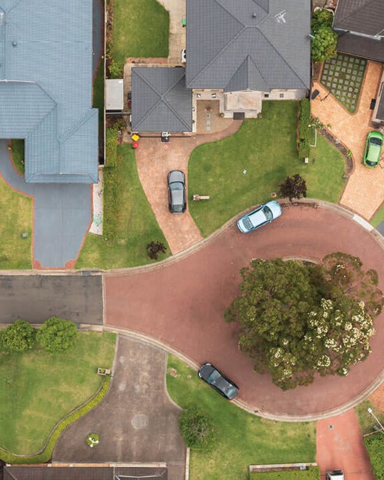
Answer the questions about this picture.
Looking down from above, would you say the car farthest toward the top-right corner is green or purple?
green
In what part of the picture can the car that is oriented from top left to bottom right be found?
bottom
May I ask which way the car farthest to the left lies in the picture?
up and down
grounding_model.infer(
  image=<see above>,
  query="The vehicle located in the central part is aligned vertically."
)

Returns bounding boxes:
[167,170,187,214]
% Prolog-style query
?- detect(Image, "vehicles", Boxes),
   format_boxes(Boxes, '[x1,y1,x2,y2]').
[326,468,346,480]
[167,170,187,214]
[236,201,282,234]
[198,363,241,399]
[362,130,384,169]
